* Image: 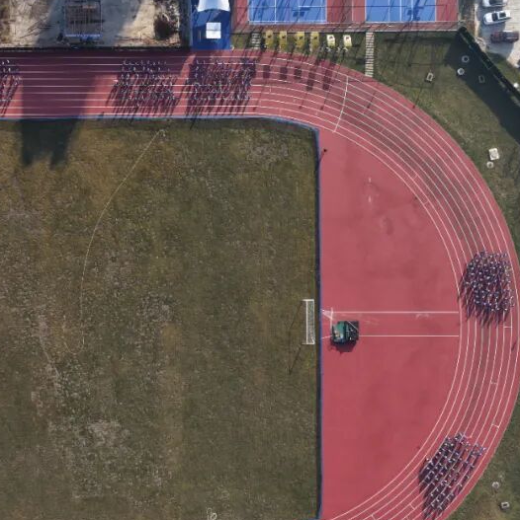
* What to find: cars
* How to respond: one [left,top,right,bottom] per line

[484,9,511,24]
[490,28,519,43]
[481,0,509,7]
